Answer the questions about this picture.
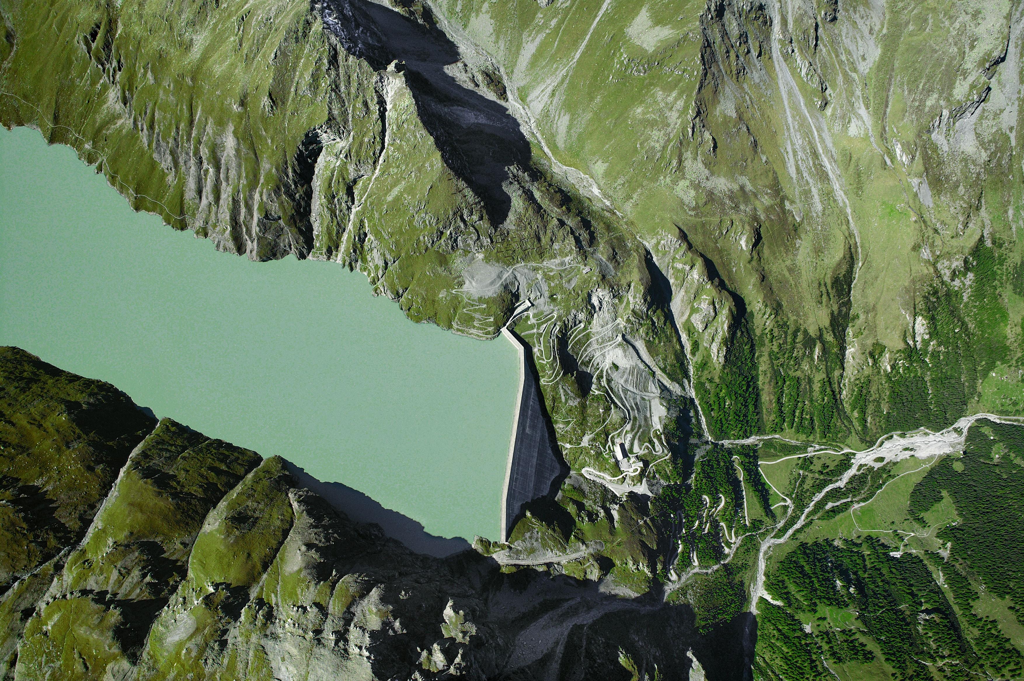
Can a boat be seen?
No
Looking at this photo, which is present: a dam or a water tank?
dam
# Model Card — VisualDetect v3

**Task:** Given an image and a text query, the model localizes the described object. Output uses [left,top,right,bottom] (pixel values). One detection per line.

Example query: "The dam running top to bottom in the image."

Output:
[500,327,559,542]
